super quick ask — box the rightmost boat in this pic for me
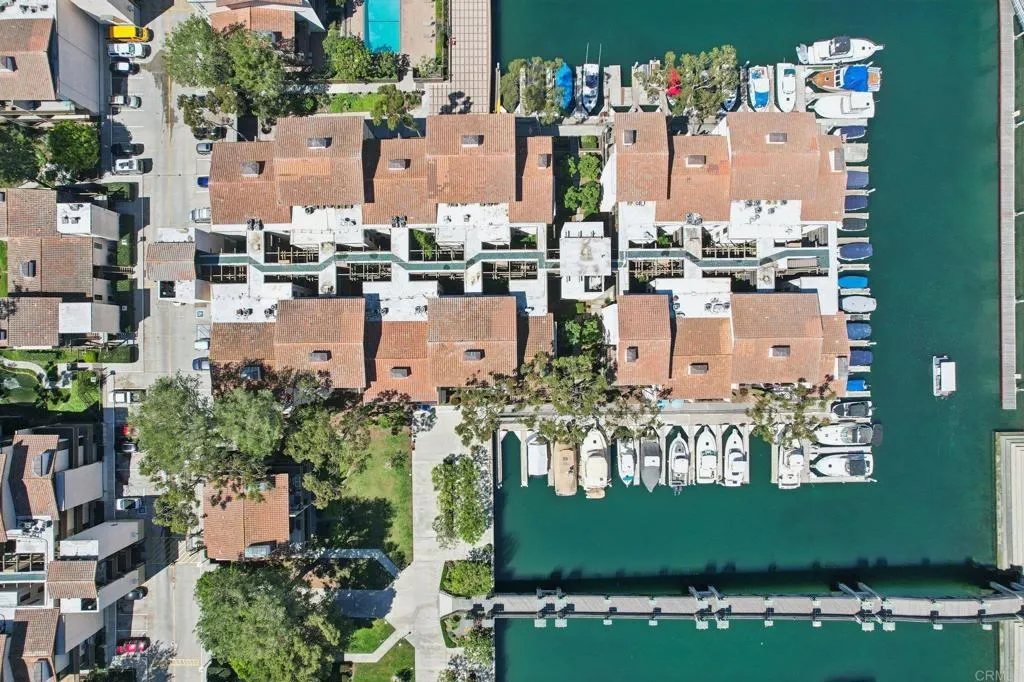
[931,356,964,398]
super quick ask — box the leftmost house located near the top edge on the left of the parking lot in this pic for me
[0,0,98,124]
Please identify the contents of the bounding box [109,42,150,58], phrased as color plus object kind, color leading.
white vehicle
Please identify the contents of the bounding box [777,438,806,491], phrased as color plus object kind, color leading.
white boat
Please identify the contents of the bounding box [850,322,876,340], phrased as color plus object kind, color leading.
blue boat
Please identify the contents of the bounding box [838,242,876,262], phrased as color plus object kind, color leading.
blue boat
